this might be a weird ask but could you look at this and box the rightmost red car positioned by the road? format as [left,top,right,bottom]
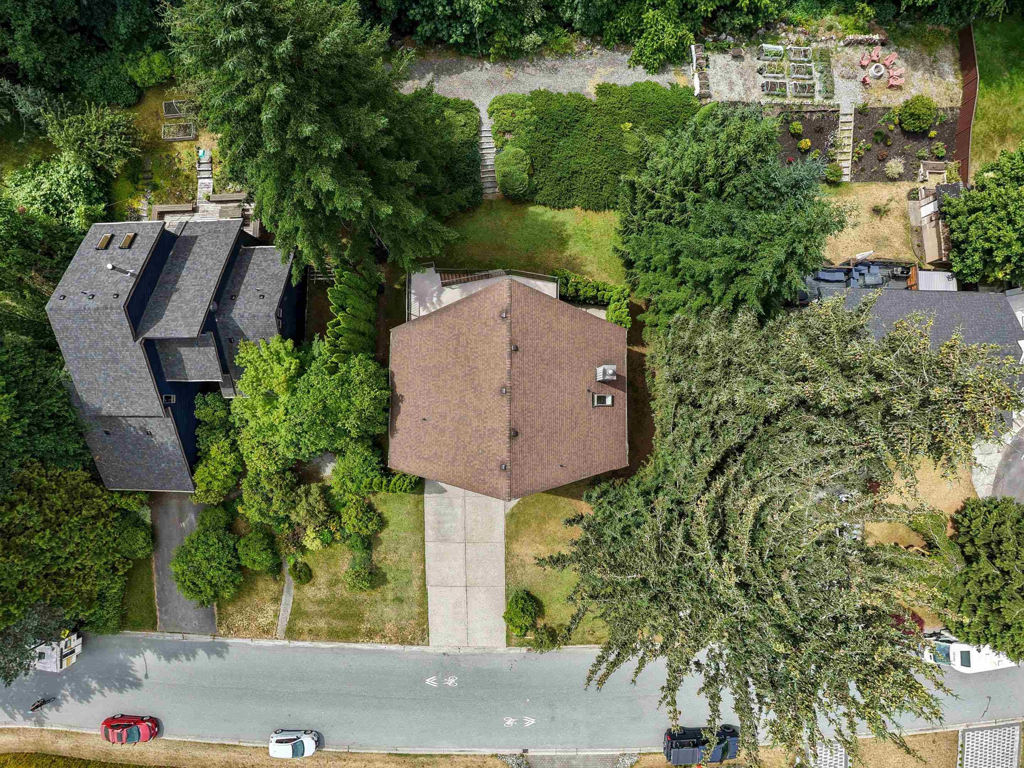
[97,712,159,744]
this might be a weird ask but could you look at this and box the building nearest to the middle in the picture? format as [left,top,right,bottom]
[387,277,630,501]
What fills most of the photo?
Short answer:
trees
